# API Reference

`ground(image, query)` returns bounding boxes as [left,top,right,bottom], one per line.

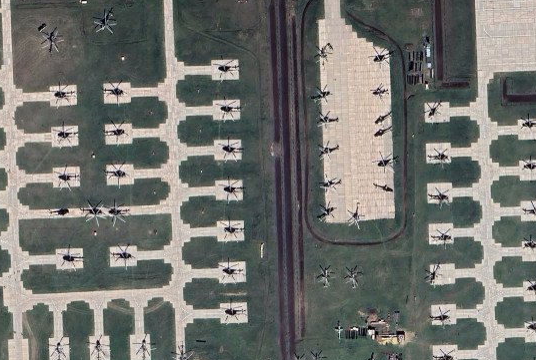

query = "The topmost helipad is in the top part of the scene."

[212,59,239,79]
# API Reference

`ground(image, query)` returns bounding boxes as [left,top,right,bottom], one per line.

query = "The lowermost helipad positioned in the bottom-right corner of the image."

[433,345,458,360]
